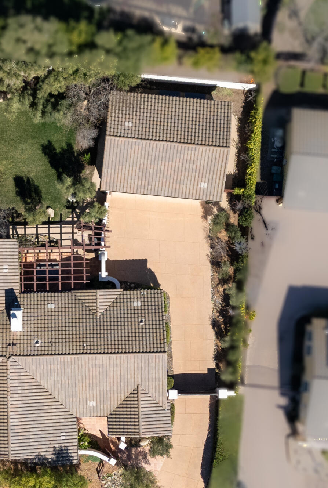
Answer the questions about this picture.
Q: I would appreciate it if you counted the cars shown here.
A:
zero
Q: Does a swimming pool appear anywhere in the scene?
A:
No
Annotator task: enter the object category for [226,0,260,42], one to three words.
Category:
shed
